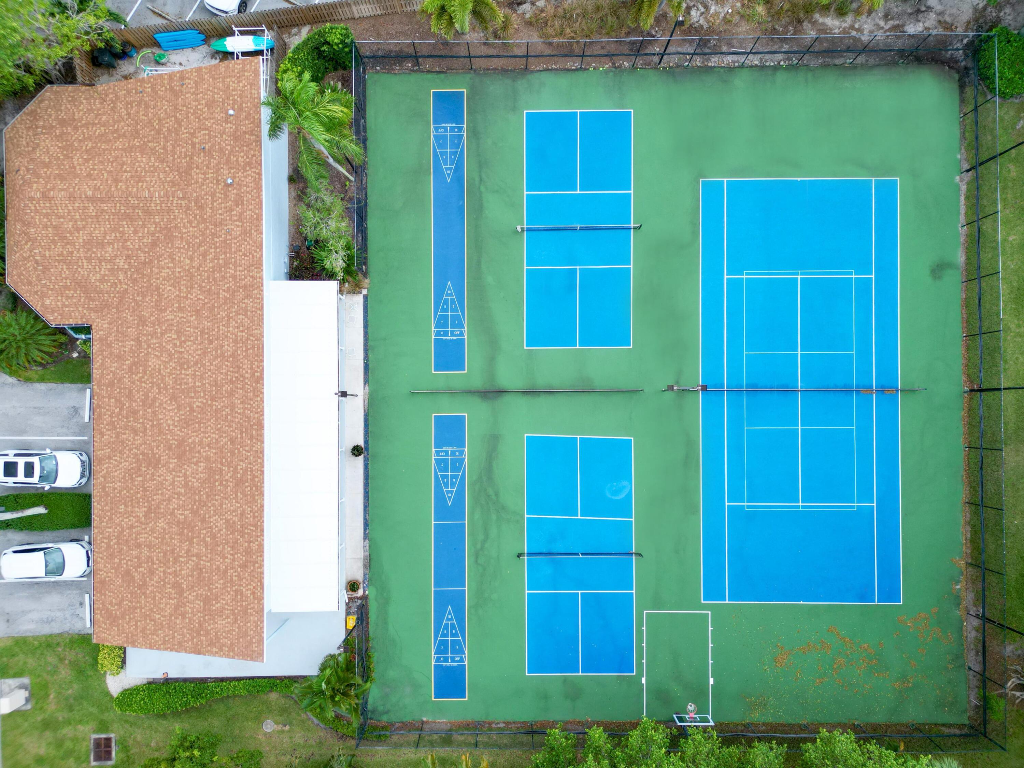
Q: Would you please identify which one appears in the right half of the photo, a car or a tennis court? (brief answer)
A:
tennis court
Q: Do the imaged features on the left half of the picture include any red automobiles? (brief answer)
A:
No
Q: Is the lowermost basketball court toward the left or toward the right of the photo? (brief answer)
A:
right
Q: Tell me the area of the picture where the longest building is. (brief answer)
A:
left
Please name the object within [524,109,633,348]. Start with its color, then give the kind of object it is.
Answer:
blue sports court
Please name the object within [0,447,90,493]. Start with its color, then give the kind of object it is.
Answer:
white car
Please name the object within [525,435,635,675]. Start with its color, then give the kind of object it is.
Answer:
blue sports court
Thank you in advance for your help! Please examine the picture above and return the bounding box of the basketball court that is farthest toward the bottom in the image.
[642,611,714,720]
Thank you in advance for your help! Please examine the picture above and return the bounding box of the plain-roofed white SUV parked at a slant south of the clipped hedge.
[0,538,90,583]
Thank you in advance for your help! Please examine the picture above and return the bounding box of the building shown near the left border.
[1,56,345,663]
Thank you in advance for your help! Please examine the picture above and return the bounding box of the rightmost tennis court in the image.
[700,178,903,604]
